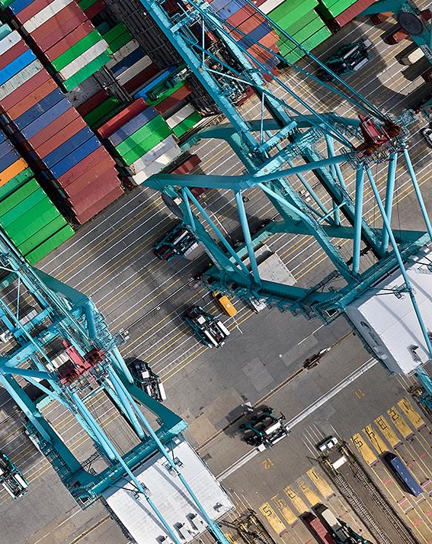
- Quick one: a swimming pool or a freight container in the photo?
freight container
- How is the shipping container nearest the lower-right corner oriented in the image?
diagonally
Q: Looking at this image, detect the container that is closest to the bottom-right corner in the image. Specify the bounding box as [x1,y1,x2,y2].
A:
[385,453,424,496]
